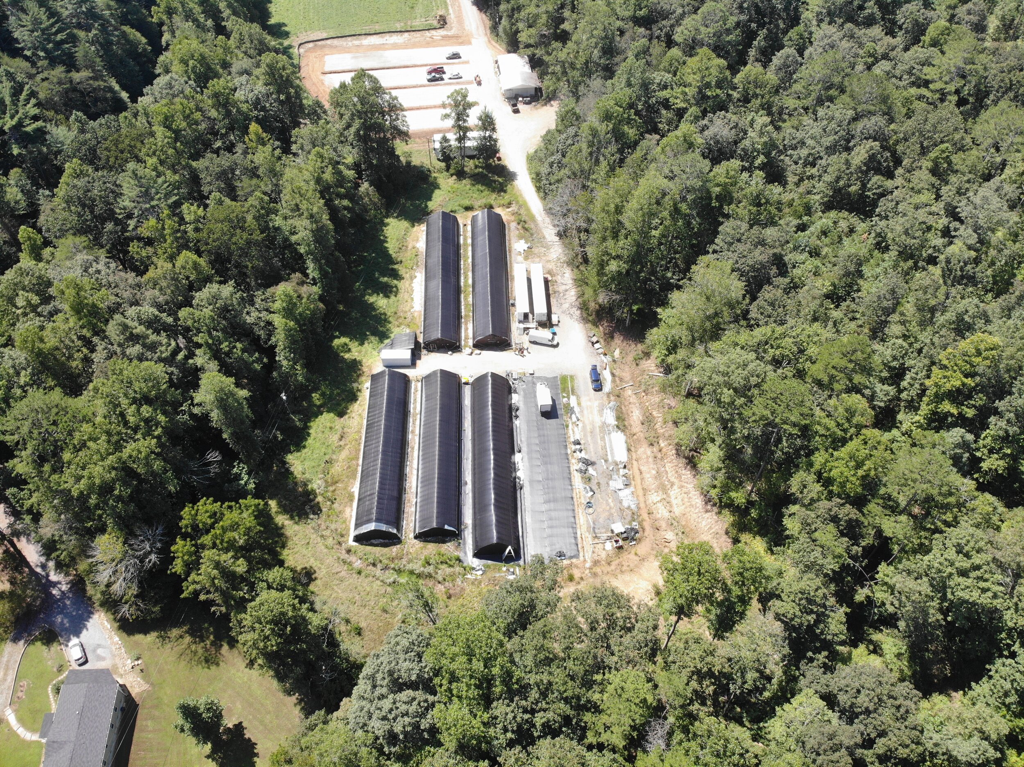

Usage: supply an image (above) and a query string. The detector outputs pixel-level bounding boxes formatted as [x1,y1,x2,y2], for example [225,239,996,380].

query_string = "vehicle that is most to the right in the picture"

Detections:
[588,362,605,391]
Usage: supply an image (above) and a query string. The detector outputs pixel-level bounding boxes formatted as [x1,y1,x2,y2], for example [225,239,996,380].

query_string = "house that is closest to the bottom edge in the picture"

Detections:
[34,670,128,767]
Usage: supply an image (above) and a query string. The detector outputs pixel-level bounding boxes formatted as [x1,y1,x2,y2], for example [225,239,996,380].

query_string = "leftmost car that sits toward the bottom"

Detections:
[63,634,85,668]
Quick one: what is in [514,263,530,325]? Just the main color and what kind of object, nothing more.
white trailer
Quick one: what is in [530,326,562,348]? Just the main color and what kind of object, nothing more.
white vehicle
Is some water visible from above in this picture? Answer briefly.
No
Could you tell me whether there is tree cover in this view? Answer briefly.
Yes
